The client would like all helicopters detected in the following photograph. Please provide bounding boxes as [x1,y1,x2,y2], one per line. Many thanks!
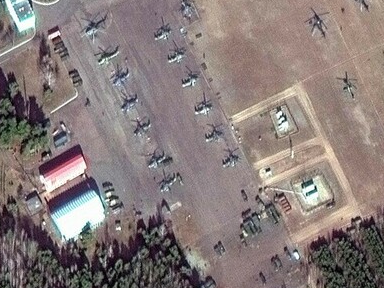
[181,73,203,89]
[156,180,178,196]
[82,21,107,42]
[193,100,216,117]
[221,153,242,170]
[131,123,153,140]
[168,50,188,66]
[110,73,132,90]
[147,154,167,172]
[339,78,357,97]
[97,51,120,68]
[119,98,140,116]
[154,25,176,43]
[178,2,197,20]
[205,127,227,145]
[306,13,329,35]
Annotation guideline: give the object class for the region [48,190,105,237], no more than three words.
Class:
hangar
